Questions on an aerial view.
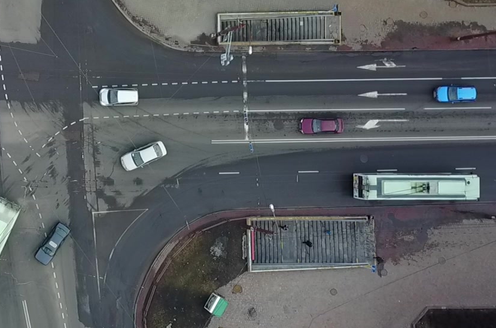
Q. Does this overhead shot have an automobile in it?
Yes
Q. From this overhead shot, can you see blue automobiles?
Yes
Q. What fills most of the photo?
paved ground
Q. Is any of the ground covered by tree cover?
No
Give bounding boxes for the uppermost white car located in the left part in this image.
[99,85,138,107]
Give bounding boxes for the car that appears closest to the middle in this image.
[298,115,343,136]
